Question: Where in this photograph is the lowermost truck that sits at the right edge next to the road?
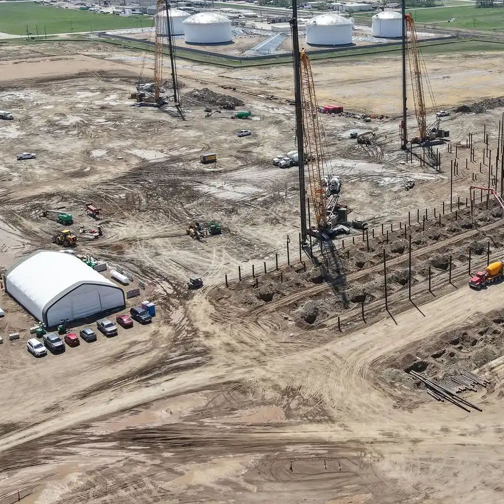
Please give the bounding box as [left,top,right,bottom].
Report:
[466,256,504,288]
